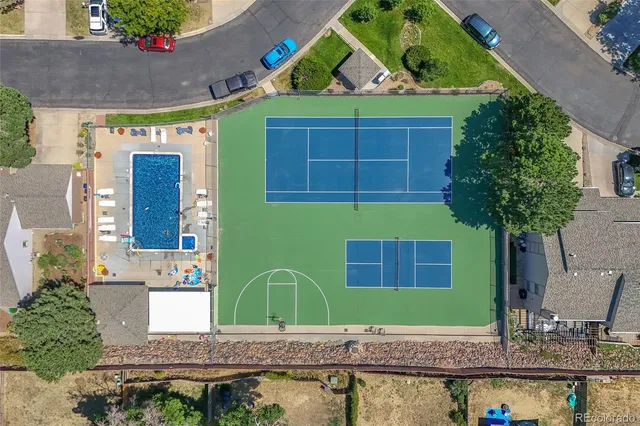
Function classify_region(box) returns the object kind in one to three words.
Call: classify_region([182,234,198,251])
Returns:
swimming pool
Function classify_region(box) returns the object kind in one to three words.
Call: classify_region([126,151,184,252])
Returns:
swimming pool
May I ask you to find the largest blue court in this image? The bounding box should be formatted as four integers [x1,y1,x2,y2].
[265,116,453,204]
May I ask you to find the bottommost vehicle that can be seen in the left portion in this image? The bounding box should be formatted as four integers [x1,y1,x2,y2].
[209,70,258,99]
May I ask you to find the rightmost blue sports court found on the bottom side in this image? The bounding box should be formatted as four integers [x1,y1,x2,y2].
[346,240,452,289]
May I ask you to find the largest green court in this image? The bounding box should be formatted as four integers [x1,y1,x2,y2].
[216,96,499,325]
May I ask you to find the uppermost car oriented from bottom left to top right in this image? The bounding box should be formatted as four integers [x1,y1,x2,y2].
[261,37,298,70]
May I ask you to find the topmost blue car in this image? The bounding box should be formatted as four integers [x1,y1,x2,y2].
[462,14,501,49]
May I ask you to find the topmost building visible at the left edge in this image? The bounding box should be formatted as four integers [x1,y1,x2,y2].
[0,166,82,307]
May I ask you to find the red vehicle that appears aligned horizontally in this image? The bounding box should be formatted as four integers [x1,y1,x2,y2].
[138,34,176,52]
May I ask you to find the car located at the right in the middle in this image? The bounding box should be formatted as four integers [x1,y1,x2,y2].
[614,160,636,196]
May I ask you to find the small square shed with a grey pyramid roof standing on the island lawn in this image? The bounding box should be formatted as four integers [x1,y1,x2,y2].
[338,48,381,91]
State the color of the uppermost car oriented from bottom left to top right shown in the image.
blue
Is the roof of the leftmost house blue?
No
